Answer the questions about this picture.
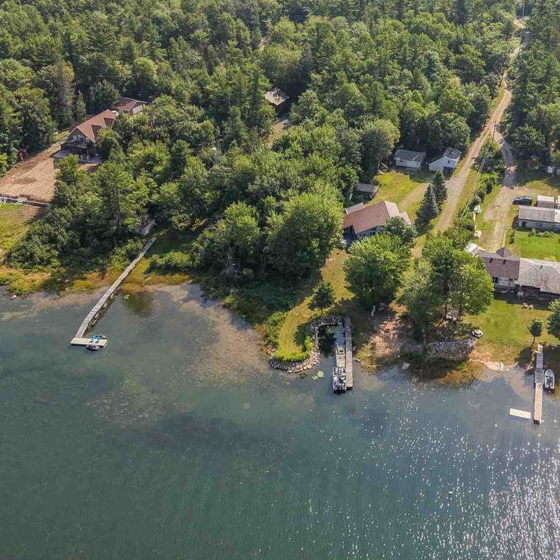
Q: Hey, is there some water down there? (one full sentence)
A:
Yes, water can be seen from above here.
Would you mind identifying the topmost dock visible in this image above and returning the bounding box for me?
[68,238,160,349]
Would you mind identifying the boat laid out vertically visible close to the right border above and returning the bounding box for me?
[545,368,557,392]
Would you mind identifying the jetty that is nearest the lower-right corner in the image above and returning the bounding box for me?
[534,343,546,424]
